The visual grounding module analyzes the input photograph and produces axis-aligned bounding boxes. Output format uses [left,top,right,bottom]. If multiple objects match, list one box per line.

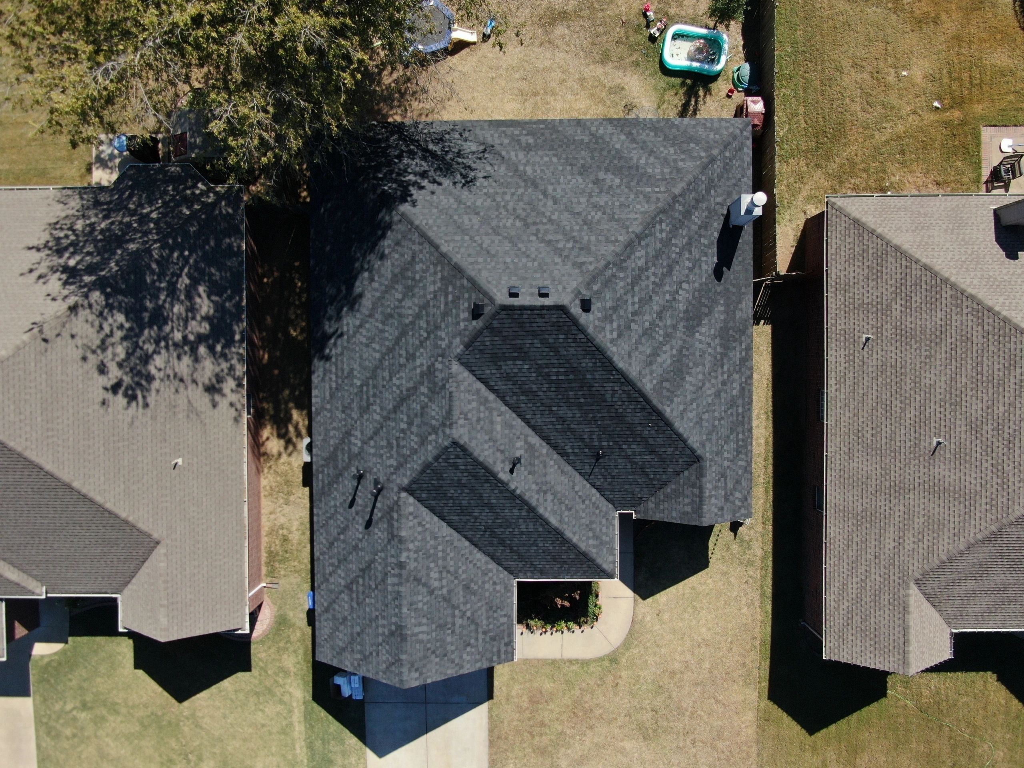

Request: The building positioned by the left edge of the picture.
[0,162,268,664]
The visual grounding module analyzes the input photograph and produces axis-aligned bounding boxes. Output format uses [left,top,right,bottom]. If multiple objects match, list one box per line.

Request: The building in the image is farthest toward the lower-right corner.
[799,194,1024,677]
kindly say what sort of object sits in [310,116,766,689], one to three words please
house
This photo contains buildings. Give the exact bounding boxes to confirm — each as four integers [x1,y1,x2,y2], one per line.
[0,162,268,664]
[310,116,766,689]
[799,194,1024,677]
